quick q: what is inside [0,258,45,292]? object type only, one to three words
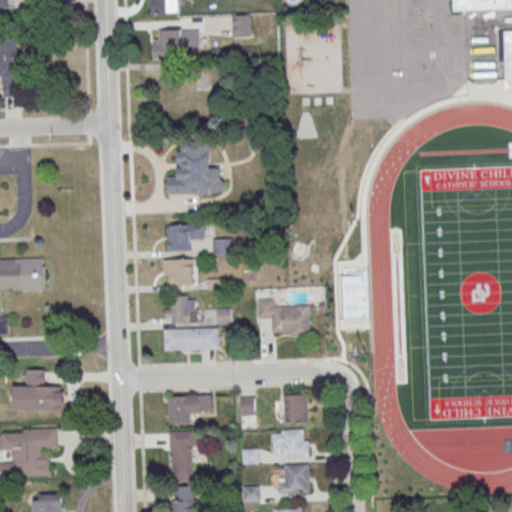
house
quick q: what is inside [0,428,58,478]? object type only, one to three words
house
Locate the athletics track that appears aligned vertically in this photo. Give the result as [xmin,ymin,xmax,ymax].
[368,104,512,497]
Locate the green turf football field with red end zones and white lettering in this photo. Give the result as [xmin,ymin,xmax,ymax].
[390,126,512,433]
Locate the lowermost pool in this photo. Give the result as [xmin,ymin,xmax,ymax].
[286,291,308,306]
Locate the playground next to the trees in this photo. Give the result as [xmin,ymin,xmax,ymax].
[285,24,343,95]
